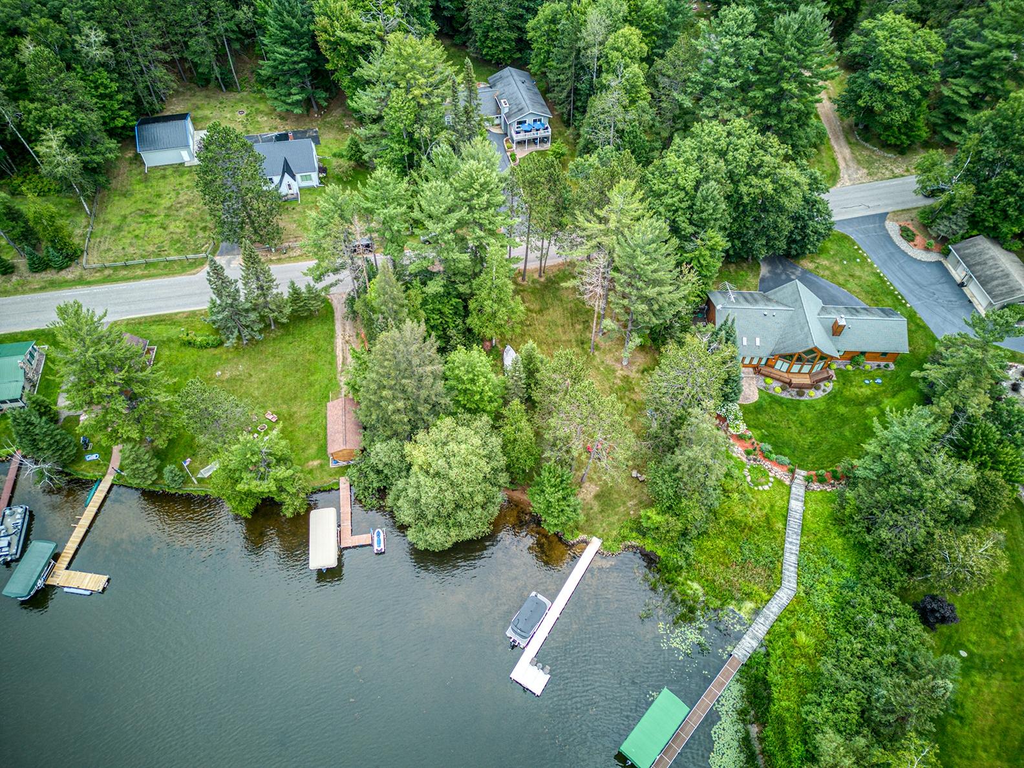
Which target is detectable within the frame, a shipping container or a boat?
boat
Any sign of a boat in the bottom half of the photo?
Yes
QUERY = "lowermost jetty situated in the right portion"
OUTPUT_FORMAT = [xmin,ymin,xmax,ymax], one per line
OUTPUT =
[650,653,746,768]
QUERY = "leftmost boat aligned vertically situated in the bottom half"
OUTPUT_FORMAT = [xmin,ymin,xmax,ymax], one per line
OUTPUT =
[0,505,29,563]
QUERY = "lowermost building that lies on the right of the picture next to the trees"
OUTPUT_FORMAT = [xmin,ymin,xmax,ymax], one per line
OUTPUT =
[706,275,910,393]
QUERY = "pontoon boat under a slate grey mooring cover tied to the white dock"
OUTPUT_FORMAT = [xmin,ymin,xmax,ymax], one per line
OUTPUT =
[508,593,549,645]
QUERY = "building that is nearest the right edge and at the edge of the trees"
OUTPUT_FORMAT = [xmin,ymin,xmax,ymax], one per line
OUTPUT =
[952,234,1024,310]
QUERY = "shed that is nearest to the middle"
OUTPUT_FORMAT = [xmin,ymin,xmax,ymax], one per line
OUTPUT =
[327,391,365,469]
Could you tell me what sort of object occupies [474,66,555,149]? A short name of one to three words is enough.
house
